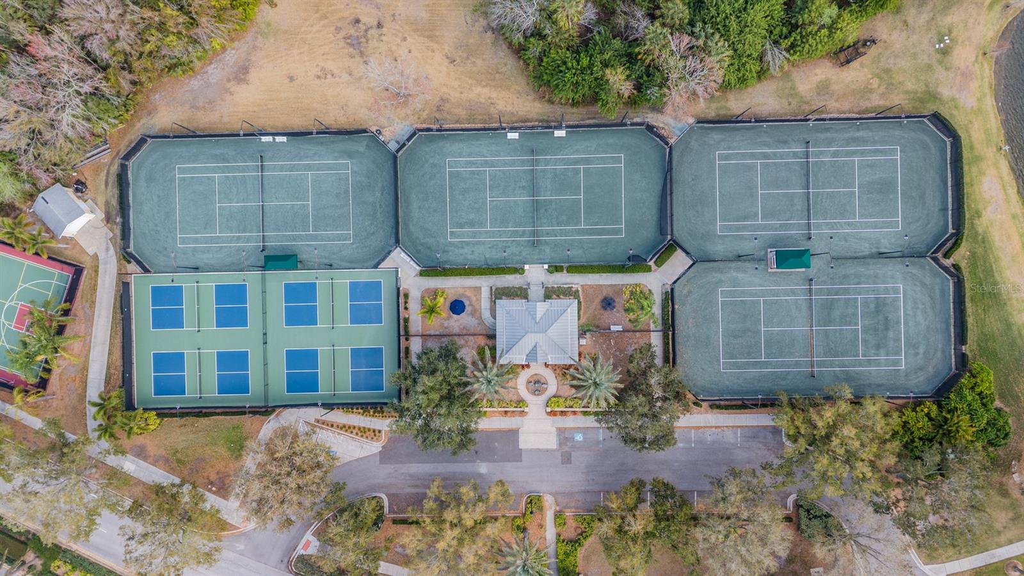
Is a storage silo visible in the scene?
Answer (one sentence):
No, there is no storage silo in the image.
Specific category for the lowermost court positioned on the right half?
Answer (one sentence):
The lowermost court positioned on the right half can be classified as a tennis court.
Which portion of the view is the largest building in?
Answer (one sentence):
The largest building is in the center part of the image.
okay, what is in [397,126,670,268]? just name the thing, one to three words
tennis court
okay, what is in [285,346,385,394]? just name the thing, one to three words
sports court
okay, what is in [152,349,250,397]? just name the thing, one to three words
sports court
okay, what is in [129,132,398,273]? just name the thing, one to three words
tennis court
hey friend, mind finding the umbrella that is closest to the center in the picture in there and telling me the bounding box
[449,299,465,315]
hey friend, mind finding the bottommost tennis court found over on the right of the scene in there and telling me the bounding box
[672,255,955,399]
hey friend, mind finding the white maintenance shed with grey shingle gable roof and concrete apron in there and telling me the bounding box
[34,184,95,239]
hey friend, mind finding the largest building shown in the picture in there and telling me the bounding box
[496,299,579,365]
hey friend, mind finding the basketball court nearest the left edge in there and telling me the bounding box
[0,242,86,398]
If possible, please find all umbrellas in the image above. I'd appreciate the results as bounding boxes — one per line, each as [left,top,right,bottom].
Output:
[601,296,615,310]
[449,299,465,315]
